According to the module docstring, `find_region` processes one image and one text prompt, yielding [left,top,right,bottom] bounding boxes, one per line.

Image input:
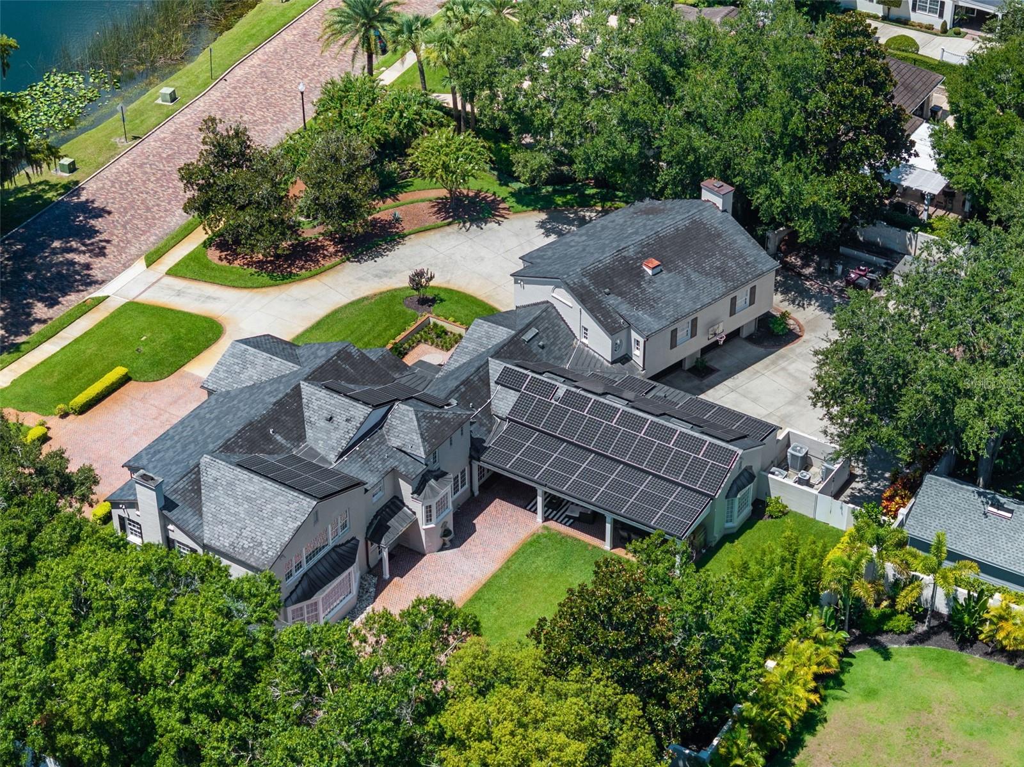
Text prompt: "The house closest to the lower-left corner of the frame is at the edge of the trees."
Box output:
[102,177,784,642]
